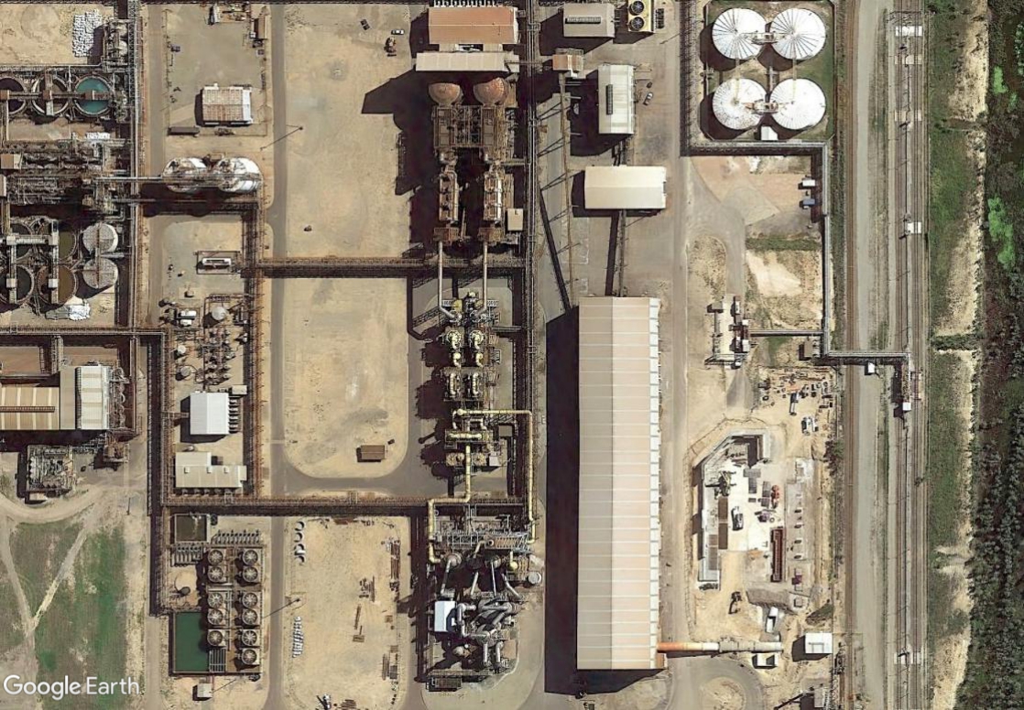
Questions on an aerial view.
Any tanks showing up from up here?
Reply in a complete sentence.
Yes, a tank is visible in the scene.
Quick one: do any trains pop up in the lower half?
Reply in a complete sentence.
No, the scene shows no train in the lower half.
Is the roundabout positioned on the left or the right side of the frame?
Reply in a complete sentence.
It is on the right.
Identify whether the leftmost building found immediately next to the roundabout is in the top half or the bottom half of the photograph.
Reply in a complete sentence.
Seen from above, the leftmost building found immediately next to the roundabout lies in the bottom half of the view.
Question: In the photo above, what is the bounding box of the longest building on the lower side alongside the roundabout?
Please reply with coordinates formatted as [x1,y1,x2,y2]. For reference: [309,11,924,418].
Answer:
[579,298,668,670]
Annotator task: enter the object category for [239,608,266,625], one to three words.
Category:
cooling tower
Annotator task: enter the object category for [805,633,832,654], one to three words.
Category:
shed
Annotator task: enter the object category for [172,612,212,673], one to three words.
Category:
pond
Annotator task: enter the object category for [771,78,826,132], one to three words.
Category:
storage tank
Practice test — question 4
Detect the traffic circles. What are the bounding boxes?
[669,655,766,710]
